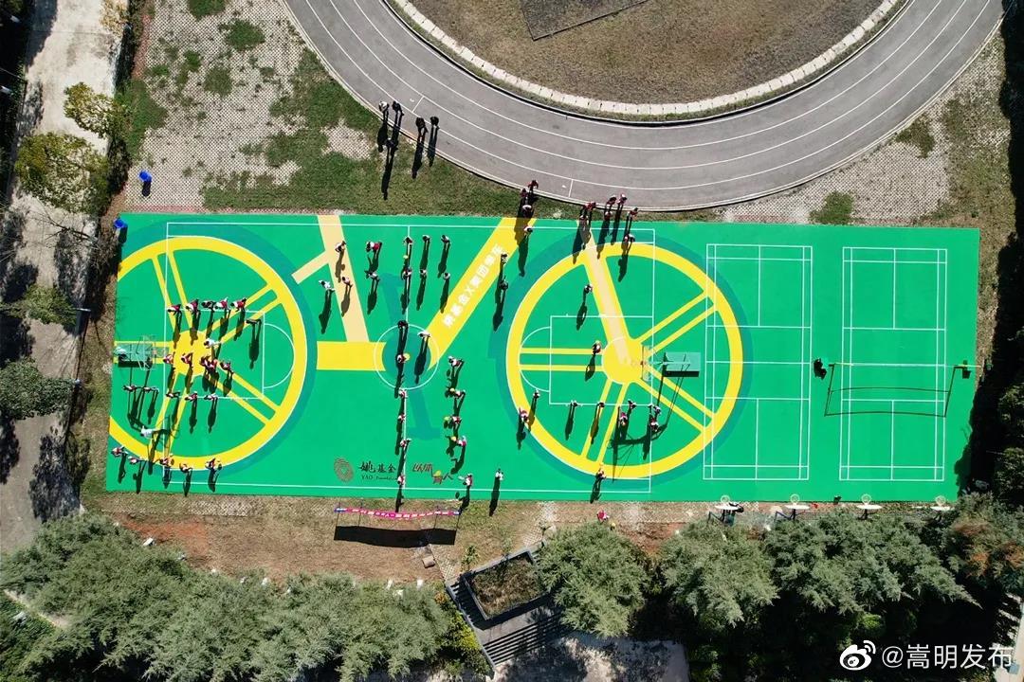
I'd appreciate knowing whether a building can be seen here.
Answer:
No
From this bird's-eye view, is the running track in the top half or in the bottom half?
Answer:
top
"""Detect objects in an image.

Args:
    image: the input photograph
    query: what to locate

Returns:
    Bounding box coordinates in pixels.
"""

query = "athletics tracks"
[275,0,1015,214]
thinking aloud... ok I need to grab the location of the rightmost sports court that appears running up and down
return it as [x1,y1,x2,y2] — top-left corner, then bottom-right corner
[840,247,948,481]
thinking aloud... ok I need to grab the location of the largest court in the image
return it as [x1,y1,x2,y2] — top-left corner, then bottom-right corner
[106,214,979,501]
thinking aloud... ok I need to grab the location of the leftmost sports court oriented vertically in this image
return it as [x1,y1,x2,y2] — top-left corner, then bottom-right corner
[703,243,814,481]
